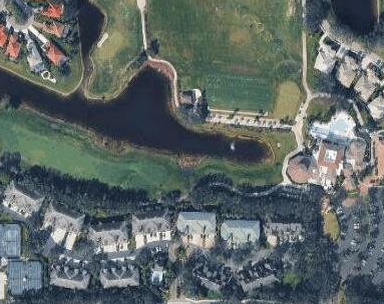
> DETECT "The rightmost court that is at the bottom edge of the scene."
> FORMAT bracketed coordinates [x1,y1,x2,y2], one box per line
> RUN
[25,261,42,295]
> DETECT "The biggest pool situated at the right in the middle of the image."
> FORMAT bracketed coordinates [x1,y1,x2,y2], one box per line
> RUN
[311,117,349,141]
